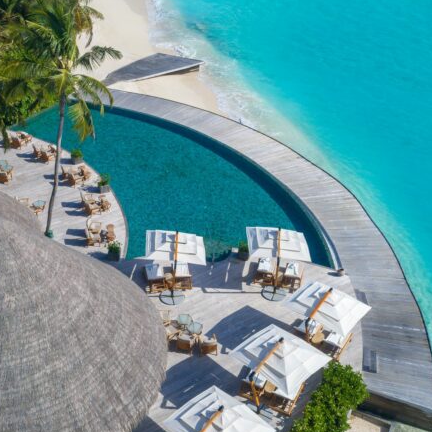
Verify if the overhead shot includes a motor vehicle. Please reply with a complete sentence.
No, the frame has no motor vehicle in it.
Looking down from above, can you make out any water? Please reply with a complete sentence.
Yes, water can be seen from above here.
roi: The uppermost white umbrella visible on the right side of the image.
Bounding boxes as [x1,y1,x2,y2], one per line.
[246,228,311,306]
